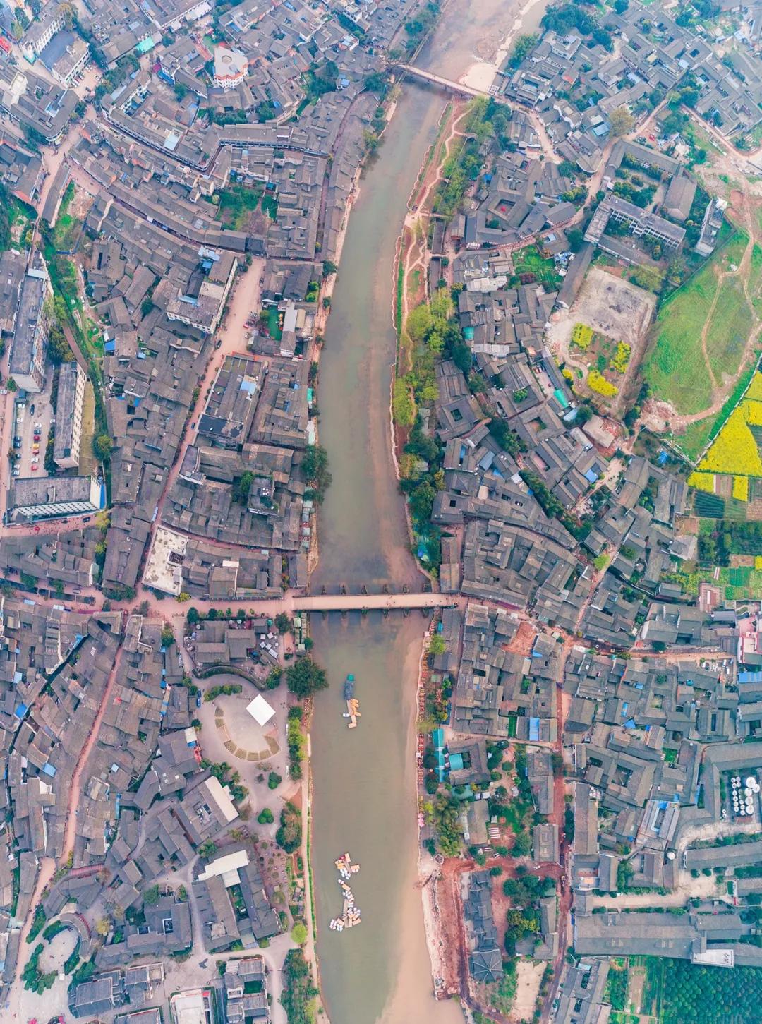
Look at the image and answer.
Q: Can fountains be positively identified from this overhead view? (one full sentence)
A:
No, this view has no fountain in it.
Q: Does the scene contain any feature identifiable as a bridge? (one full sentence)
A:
Yes, a bridge is visible in the scene.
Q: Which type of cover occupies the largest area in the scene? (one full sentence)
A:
Most of the picture is covered by buildings.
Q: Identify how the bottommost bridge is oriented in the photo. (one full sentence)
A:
The bottommost bridge has been laid out from side to side relative to the frame.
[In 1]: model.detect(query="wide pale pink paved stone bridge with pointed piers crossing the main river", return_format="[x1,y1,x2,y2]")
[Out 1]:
[290,585,464,621]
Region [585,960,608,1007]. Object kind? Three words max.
house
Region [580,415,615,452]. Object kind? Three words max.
building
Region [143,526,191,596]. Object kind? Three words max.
building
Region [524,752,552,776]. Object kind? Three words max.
house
